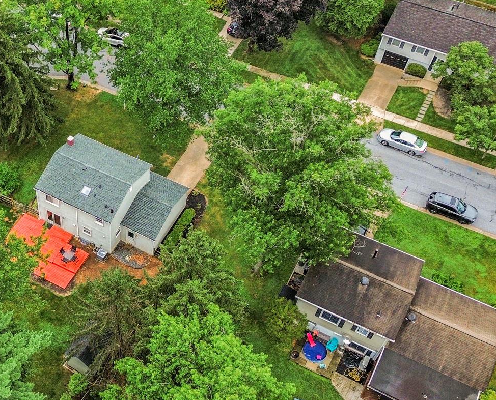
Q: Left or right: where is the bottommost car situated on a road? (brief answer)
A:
right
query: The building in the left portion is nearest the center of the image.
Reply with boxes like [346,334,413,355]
[118,170,190,261]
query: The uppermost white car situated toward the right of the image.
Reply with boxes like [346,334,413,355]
[378,127,430,156]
